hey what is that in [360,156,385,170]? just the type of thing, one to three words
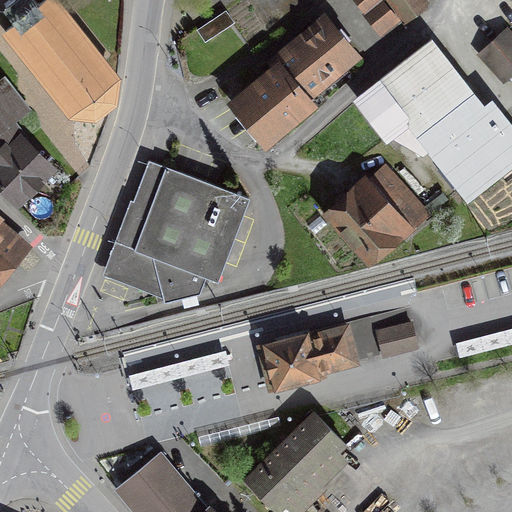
car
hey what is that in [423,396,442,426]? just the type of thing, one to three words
vehicle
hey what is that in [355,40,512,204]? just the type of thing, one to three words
warehouse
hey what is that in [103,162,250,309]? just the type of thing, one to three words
building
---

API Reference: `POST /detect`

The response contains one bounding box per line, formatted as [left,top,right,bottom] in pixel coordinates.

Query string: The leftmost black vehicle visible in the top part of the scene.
[195,90,218,106]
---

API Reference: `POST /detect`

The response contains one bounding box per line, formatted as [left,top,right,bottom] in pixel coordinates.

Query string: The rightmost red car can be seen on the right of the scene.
[462,283,475,308]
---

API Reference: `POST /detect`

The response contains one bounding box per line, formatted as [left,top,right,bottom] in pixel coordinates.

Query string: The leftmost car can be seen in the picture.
[172,448,185,468]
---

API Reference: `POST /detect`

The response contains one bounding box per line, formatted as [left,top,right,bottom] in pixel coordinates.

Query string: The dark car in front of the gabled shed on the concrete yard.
[473,13,494,38]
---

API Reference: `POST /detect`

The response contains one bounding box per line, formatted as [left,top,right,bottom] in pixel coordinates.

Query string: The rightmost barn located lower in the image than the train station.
[244,412,349,512]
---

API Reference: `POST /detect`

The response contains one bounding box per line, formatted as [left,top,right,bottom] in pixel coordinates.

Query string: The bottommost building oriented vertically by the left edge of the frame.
[0,216,32,285]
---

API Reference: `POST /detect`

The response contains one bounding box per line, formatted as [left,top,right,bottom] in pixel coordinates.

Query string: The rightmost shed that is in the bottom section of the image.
[374,320,418,358]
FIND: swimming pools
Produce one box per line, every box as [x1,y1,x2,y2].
[30,196,53,220]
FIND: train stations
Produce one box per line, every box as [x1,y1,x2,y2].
[258,324,360,394]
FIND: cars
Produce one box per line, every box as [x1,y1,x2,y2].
[195,90,218,106]
[462,283,475,308]
[496,0,512,26]
[496,270,510,294]
[473,13,494,38]
[172,448,185,468]
[360,156,385,170]
[230,120,245,133]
